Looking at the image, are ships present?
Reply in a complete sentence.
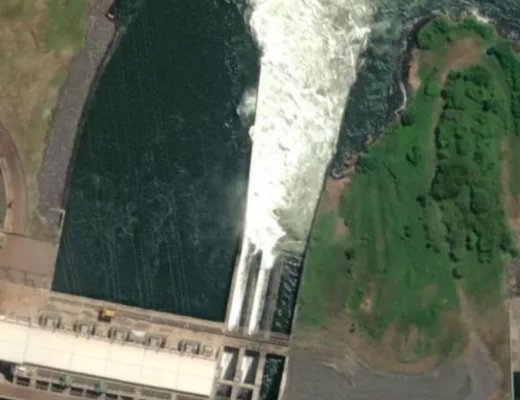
No, no ship can be seen from above.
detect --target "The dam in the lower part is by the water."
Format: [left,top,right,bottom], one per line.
[0,253,292,400]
